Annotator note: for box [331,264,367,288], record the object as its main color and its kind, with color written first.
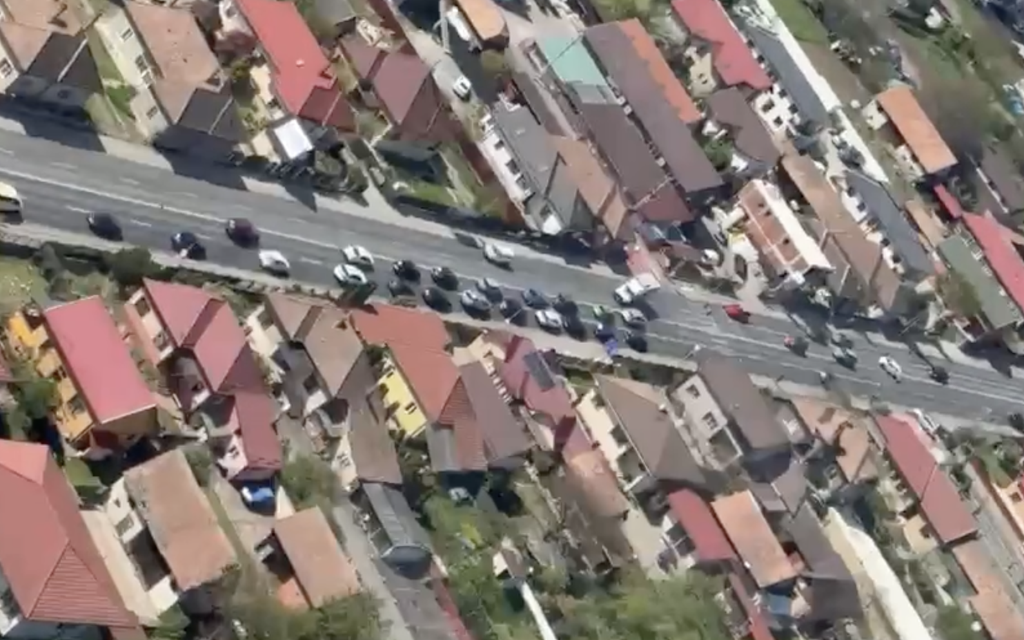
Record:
white car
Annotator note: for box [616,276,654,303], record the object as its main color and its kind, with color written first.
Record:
white truck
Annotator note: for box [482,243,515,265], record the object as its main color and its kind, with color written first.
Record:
white car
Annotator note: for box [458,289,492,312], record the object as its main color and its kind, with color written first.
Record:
gray car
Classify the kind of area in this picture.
residential area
